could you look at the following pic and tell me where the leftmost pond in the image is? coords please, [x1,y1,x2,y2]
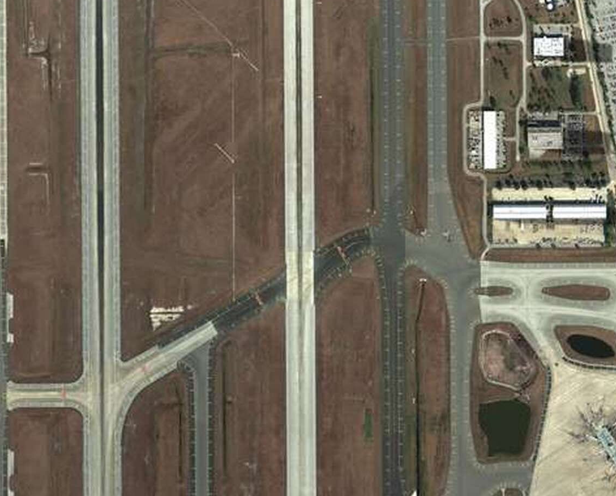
[478,399,530,456]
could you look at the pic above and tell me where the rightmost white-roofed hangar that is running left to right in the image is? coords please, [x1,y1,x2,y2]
[553,205,607,221]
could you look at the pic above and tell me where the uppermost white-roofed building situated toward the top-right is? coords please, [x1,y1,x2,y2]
[534,36,564,56]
